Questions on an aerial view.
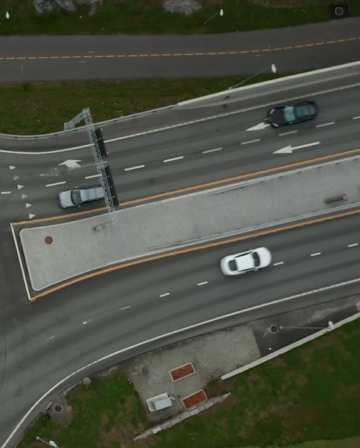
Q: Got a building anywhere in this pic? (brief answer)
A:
No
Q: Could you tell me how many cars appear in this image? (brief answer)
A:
three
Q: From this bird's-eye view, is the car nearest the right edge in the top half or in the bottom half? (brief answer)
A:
top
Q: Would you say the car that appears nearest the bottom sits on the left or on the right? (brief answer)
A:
right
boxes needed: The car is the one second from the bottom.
[61,187,106,209]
